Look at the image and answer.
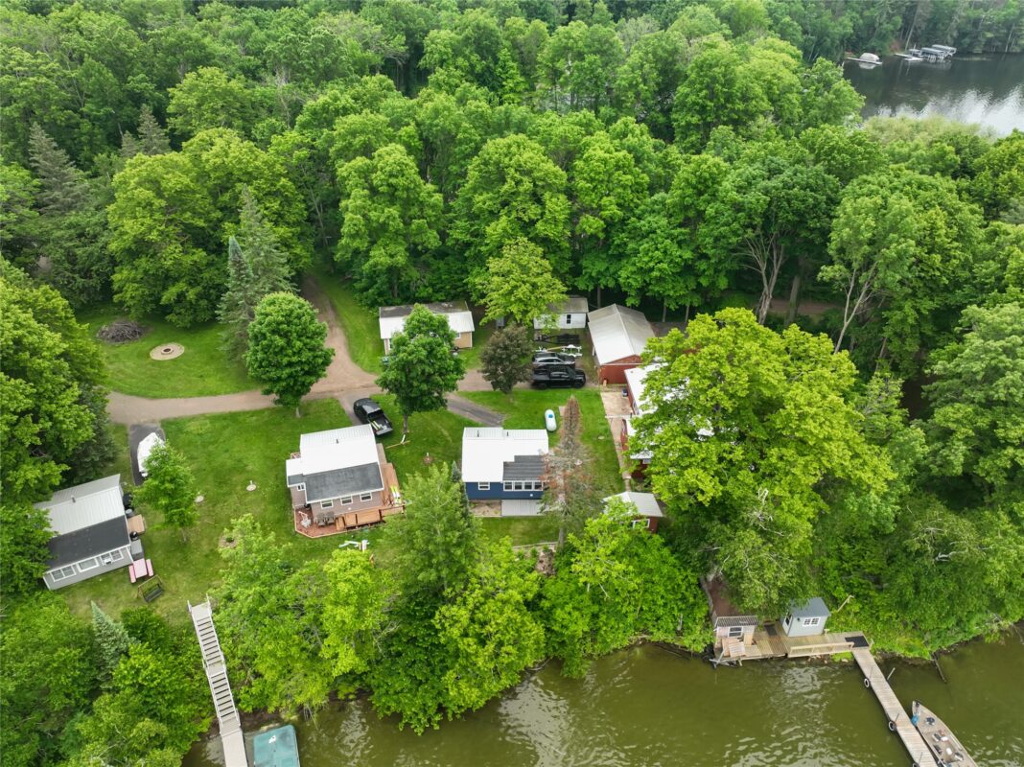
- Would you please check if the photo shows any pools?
No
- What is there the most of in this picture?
trees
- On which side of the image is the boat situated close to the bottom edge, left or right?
right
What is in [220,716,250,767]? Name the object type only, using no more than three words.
pier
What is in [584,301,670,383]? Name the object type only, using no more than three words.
building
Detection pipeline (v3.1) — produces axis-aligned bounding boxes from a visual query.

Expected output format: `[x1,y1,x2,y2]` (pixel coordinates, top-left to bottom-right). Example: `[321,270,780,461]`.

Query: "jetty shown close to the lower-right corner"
[852,647,938,767]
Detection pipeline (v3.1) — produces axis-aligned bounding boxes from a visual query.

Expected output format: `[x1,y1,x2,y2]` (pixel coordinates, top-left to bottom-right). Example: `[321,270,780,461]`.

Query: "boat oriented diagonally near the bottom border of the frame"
[911,702,972,767]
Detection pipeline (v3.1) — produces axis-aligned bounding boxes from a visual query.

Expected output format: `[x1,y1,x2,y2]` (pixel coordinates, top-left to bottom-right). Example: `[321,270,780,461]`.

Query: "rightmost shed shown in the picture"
[779,590,833,637]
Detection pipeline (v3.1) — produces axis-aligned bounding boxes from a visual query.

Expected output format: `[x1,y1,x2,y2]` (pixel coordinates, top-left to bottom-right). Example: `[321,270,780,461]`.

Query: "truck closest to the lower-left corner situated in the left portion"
[352,394,388,430]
